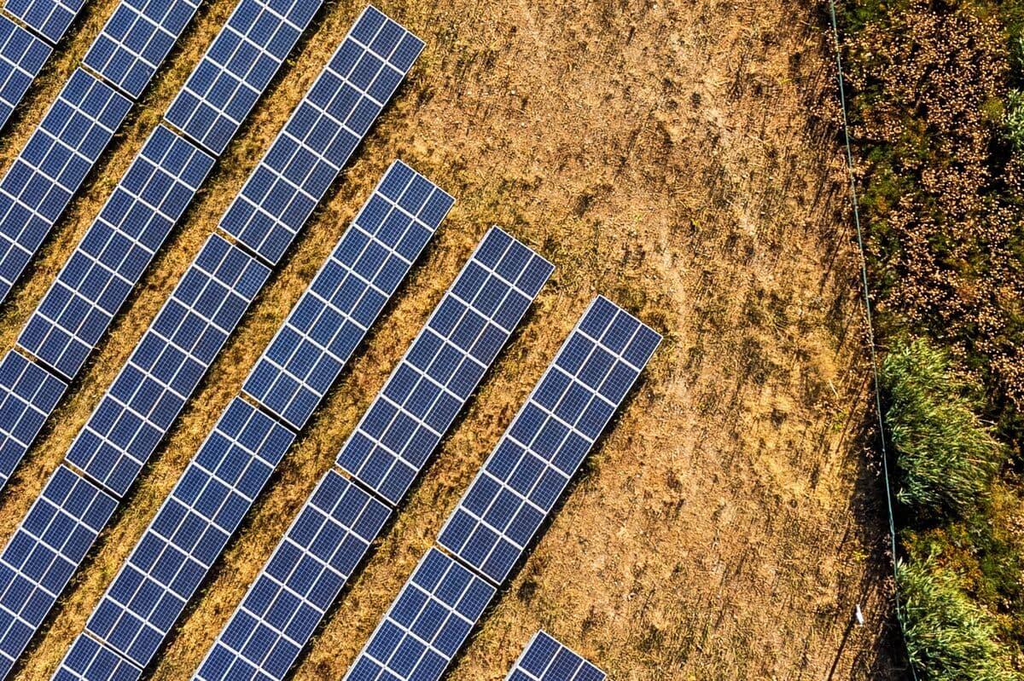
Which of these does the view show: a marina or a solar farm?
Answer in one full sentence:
This image shows a solar farm.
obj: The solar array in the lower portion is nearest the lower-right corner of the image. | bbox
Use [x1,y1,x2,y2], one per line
[503,627,606,681]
